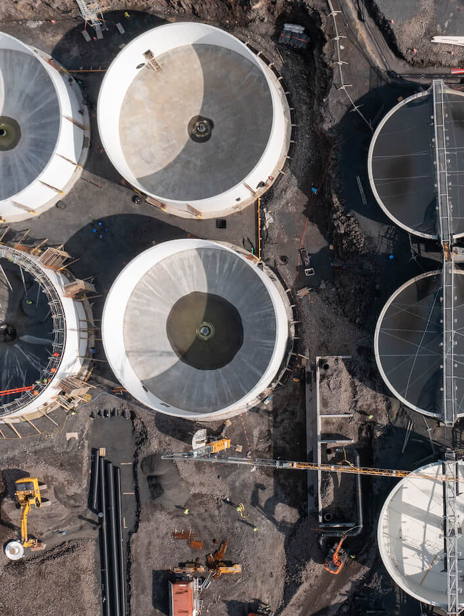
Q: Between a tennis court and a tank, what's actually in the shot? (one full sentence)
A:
It is a tank that can be seen here.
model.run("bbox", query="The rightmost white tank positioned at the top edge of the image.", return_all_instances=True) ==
[97,22,296,221]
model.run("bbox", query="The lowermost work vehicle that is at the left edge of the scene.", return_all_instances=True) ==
[12,471,53,545]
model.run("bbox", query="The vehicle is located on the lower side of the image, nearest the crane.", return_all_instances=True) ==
[323,533,349,575]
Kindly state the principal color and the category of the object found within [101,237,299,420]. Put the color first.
white storage tank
